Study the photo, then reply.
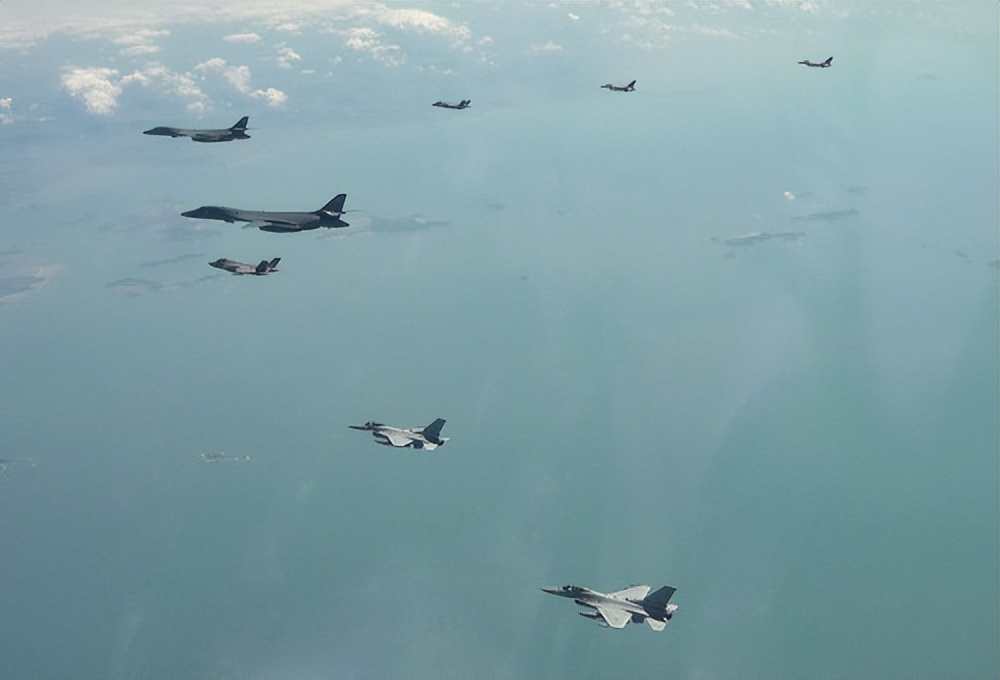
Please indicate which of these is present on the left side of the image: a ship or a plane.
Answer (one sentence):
You can see a plane on the left side of the image.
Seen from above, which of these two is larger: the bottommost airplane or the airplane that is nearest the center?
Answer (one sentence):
The larger object is the bottommost airplane, with the airplane that is nearest the center being the smaller of the pair.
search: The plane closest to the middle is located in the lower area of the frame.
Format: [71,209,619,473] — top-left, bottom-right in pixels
[345,421,445,451]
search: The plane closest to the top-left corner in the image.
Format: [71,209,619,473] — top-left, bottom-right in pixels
[143,116,259,142]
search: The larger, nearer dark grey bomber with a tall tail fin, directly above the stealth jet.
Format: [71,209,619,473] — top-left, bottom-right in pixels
[182,195,357,232]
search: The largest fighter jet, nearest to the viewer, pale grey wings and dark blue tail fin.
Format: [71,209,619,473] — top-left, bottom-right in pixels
[539,585,675,632]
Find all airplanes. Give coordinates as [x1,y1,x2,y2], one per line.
[601,81,635,92]
[539,585,675,632]
[210,257,281,276]
[345,421,445,451]
[143,116,259,142]
[799,58,832,66]
[432,100,470,109]
[182,195,357,232]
